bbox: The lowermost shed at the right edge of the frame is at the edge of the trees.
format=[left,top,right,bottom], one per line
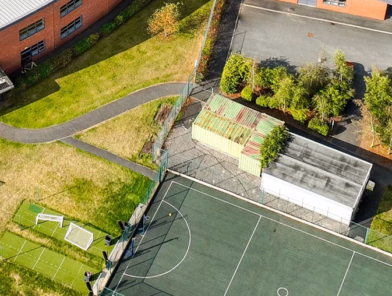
[261,127,377,226]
